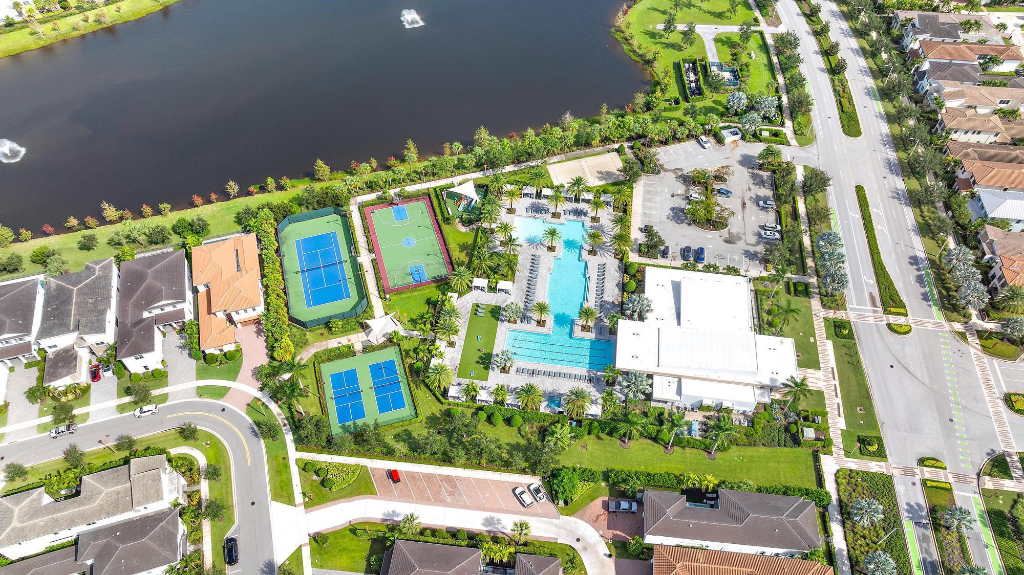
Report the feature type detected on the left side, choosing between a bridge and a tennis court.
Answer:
tennis court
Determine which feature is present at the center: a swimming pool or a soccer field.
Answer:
swimming pool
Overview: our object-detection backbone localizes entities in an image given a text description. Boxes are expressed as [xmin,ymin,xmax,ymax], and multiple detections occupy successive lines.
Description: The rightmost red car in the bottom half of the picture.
[389,464,402,487]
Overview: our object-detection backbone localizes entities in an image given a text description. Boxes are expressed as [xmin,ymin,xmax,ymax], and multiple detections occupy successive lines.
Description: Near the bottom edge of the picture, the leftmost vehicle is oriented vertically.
[223,537,236,564]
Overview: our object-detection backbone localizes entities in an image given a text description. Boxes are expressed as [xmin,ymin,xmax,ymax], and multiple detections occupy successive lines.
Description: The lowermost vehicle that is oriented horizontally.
[609,499,638,512]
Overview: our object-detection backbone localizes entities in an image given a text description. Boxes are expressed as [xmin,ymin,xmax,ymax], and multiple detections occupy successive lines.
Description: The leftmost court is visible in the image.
[280,214,366,329]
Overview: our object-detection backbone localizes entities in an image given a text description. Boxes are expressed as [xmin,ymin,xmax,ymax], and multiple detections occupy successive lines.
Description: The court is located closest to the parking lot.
[547,152,629,186]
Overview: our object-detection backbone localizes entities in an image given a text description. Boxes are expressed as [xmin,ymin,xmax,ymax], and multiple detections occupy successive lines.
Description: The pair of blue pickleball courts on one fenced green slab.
[320,348,416,438]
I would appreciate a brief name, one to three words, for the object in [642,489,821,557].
house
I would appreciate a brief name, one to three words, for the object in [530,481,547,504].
car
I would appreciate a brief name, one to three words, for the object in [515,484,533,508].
car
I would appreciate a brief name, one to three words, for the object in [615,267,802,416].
building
